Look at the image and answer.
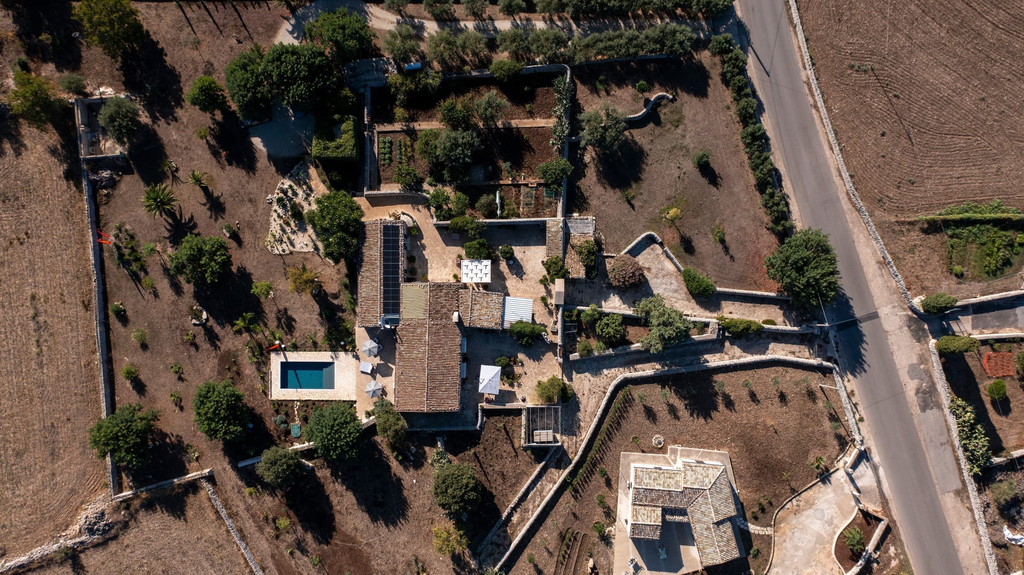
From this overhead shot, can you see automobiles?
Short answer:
No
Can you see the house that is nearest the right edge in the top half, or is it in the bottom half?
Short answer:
bottom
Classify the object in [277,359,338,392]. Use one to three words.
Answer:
swimming pool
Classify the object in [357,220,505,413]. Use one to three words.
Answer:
house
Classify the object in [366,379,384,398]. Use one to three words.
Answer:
umbrella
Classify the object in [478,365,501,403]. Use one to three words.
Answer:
umbrella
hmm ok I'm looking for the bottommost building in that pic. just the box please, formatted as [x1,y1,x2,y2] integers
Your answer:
[623,457,740,566]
